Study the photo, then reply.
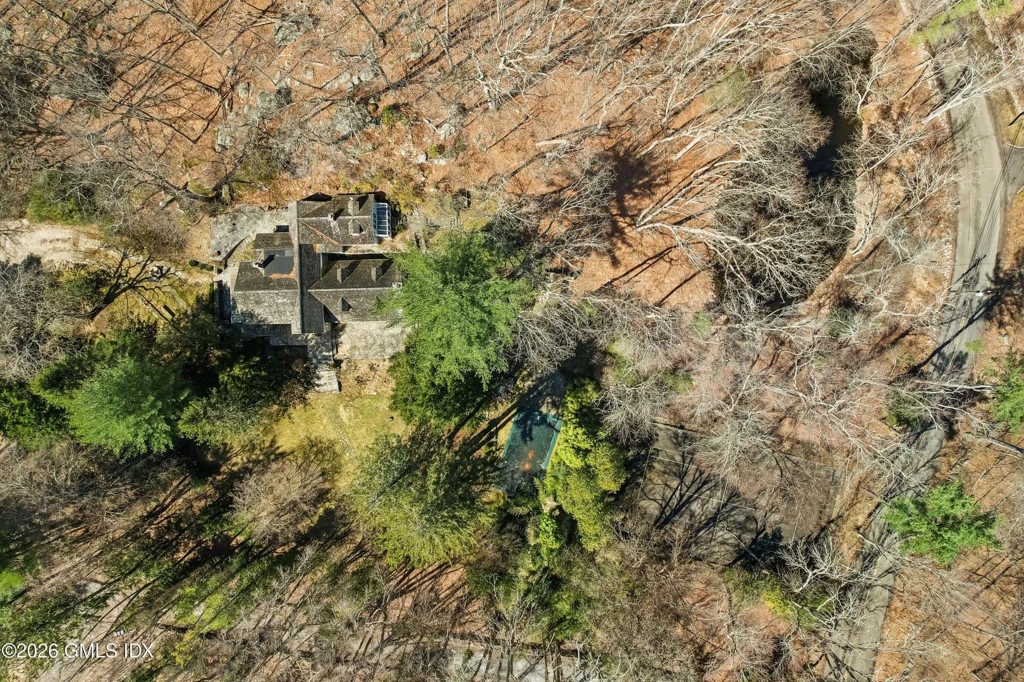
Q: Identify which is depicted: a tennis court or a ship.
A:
tennis court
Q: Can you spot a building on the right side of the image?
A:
No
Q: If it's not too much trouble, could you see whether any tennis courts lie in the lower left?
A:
No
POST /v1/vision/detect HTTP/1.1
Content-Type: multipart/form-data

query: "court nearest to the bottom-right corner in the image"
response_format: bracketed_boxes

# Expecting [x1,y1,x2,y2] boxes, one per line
[617,420,829,581]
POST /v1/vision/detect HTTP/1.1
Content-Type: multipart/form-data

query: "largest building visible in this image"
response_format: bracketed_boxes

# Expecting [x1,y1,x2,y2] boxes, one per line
[230,194,407,335]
